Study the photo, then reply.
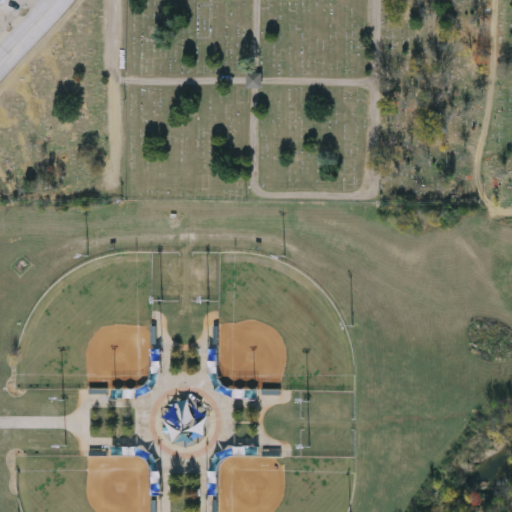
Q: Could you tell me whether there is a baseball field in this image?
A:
Yes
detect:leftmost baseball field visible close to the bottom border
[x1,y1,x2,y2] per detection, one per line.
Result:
[18,457,152,512]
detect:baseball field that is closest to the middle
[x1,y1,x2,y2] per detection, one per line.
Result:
[219,253,354,392]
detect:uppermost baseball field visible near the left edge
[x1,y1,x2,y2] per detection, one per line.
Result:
[18,252,152,389]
